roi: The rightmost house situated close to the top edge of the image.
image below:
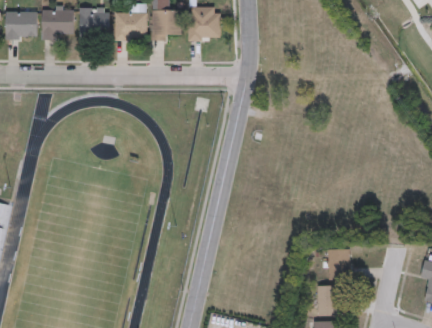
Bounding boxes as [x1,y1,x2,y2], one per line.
[189,0,222,41]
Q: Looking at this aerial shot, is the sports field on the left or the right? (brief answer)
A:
left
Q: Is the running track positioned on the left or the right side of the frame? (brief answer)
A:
left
